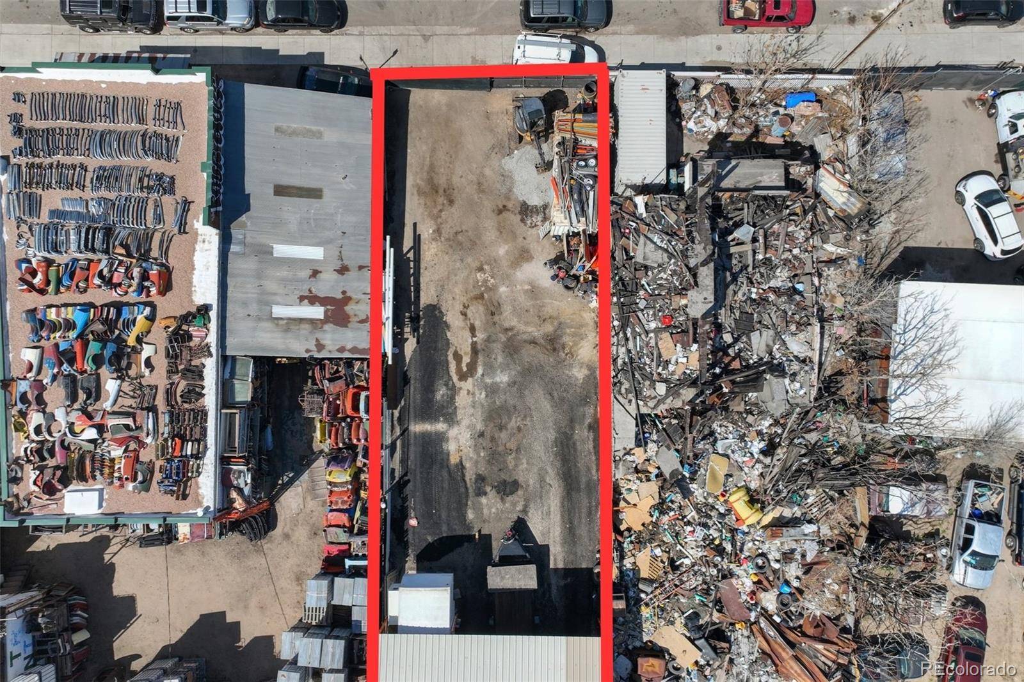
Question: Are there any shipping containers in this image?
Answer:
Yes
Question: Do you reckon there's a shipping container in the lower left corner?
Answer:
No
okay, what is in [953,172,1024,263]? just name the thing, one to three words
car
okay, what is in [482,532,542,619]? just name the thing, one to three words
trailer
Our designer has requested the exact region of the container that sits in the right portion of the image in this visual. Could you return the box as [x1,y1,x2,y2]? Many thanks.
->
[611,69,668,198]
